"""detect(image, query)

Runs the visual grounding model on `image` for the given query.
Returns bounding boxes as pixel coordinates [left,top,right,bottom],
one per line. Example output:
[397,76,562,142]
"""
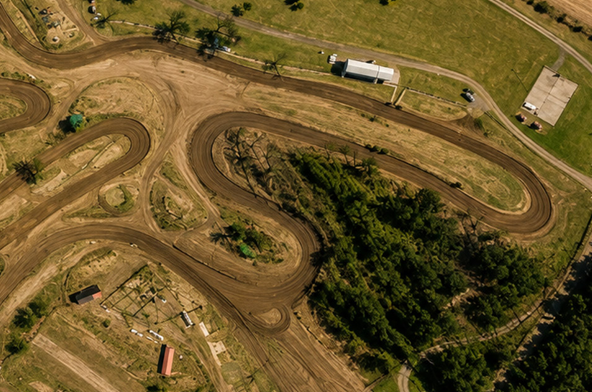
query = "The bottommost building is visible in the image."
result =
[161,343,174,376]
